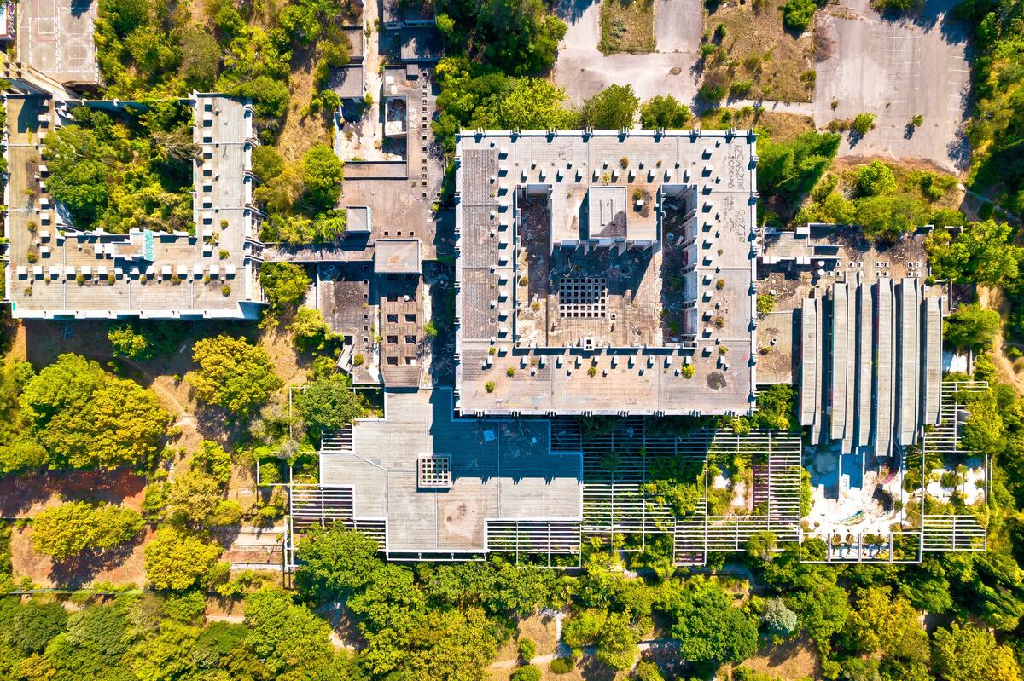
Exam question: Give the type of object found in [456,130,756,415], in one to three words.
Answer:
building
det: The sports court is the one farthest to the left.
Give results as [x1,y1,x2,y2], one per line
[15,0,97,81]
